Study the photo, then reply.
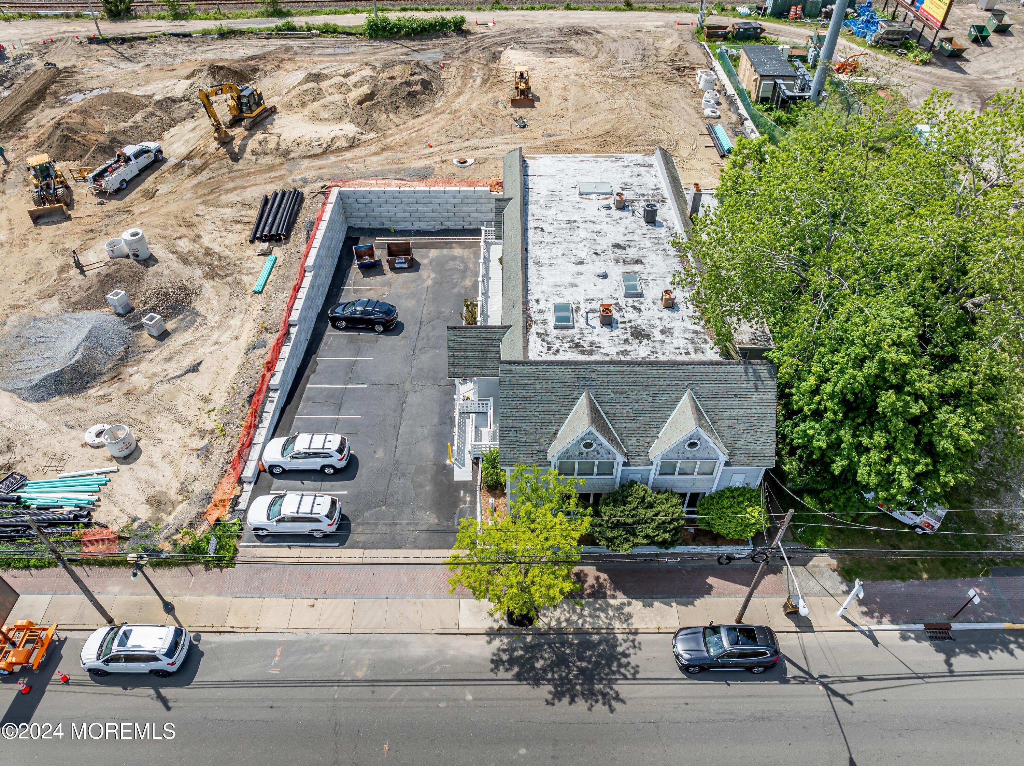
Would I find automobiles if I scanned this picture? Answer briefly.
Yes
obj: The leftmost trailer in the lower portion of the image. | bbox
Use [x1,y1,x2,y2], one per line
[0,577,55,678]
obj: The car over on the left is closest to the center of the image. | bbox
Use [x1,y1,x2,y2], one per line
[326,298,398,332]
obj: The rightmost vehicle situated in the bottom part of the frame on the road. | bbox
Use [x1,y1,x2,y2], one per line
[677,624,785,679]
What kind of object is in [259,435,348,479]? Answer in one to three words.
car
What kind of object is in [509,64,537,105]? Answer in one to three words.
work vehicle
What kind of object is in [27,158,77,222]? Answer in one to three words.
work vehicle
